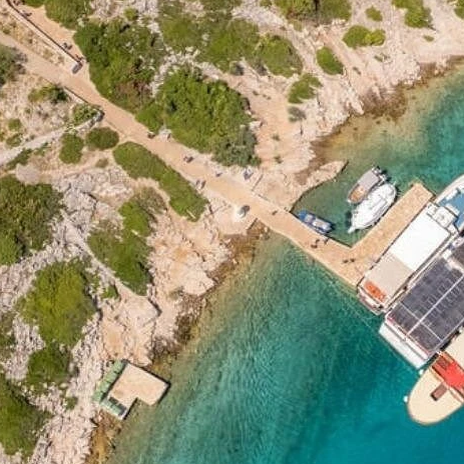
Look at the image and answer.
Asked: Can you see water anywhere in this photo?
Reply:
Yes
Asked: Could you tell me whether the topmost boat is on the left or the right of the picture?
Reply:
right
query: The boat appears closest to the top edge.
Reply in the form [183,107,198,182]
[345,164,388,201]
